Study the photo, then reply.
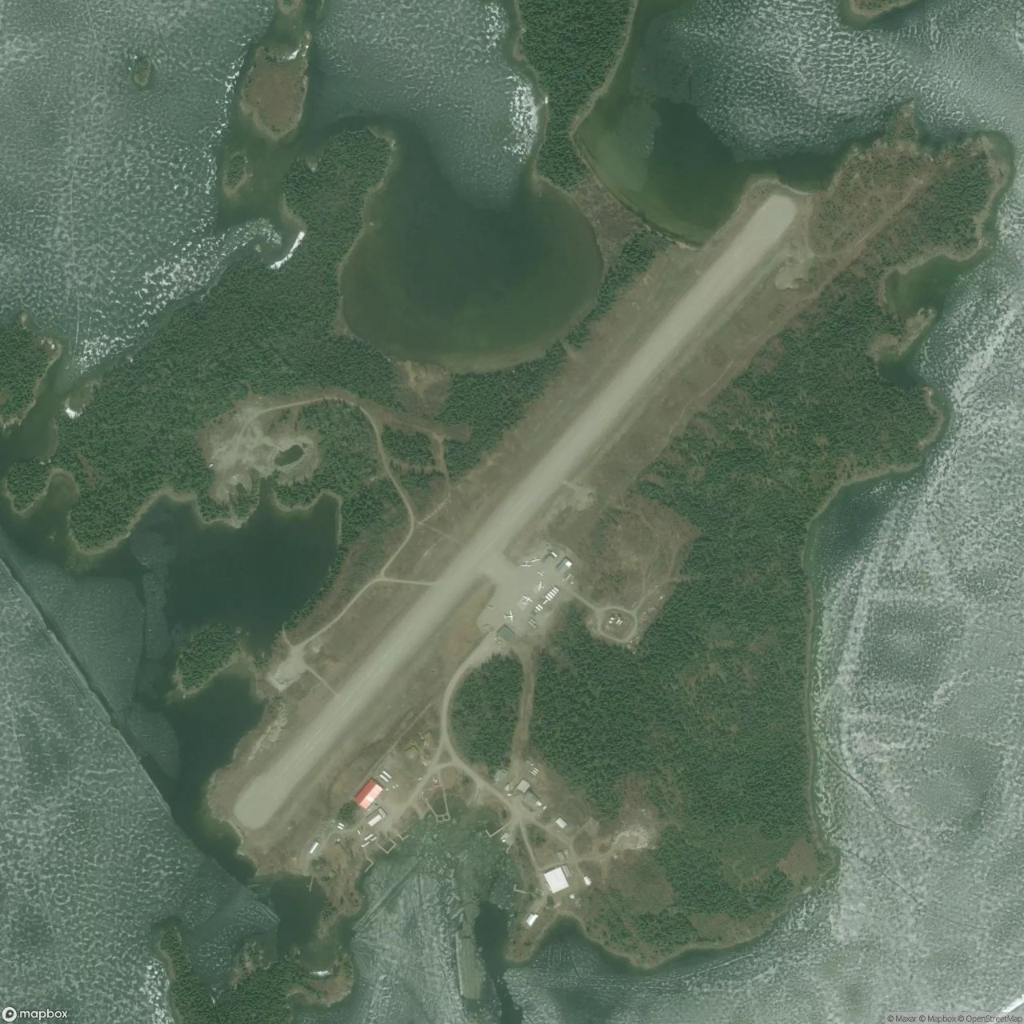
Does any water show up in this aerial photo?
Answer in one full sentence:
Yes, water shows up in the scene.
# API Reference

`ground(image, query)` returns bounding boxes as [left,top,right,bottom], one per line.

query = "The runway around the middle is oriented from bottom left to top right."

[232,194,798,829]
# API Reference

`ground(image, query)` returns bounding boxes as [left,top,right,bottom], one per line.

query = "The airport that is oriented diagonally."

[232,194,798,829]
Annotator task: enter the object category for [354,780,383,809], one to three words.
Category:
building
